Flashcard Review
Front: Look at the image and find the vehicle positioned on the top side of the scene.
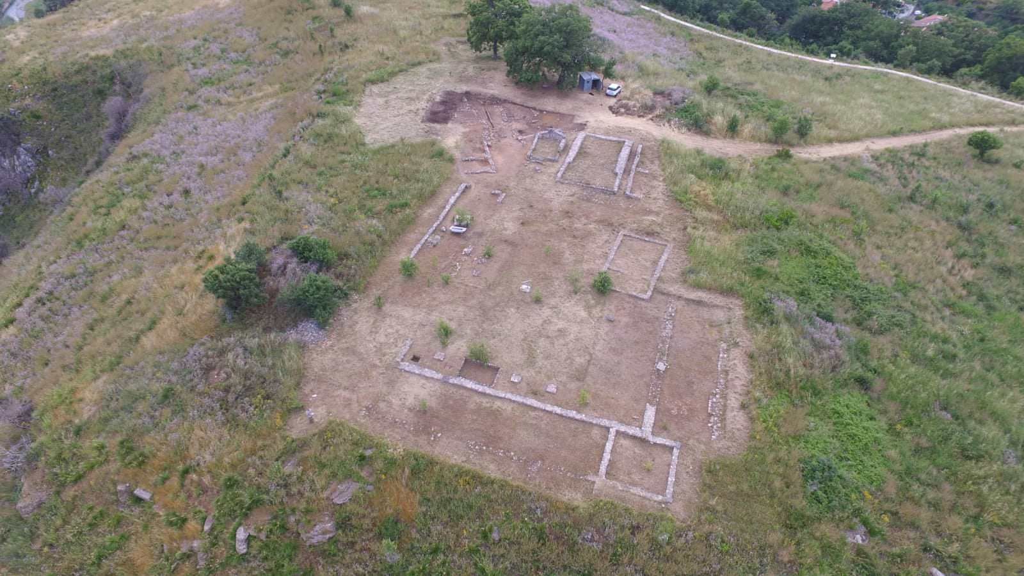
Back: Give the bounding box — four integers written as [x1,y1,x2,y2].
[606,83,620,97]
